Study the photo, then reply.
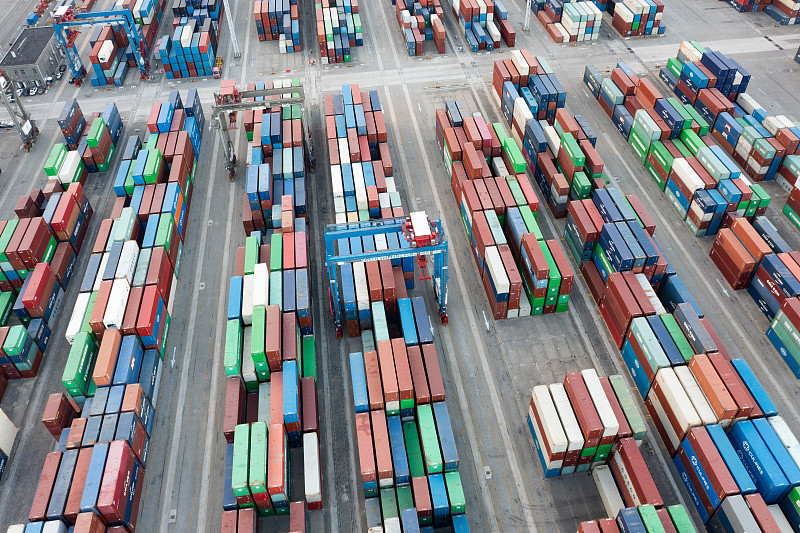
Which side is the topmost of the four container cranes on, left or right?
left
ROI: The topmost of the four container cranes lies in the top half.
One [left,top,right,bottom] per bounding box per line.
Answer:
[51,5,150,85]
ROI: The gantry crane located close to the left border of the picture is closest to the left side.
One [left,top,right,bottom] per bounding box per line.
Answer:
[0,64,38,152]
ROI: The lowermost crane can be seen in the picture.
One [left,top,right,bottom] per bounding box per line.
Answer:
[320,212,450,342]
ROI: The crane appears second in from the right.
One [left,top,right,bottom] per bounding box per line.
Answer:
[211,81,316,183]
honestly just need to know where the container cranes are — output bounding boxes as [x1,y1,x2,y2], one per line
[0,64,38,152]
[51,5,150,85]
[211,81,316,183]
[320,212,450,342]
